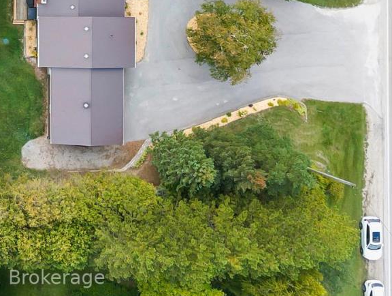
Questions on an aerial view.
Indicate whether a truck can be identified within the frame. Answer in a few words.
No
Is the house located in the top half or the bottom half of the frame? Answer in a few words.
top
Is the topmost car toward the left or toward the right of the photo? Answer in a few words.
right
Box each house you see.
[34,0,136,148]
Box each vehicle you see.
[360,218,385,260]
[362,281,386,296]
